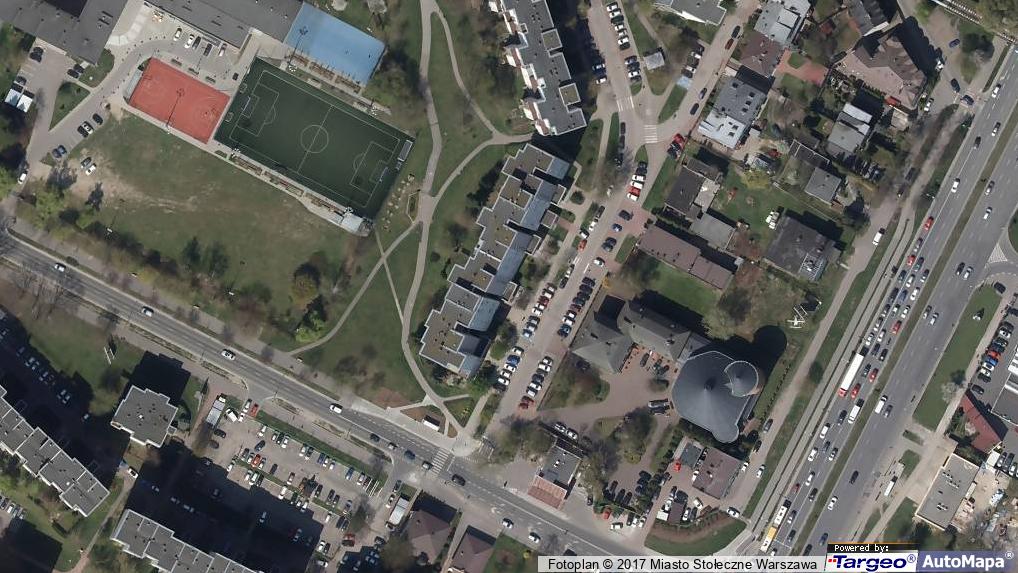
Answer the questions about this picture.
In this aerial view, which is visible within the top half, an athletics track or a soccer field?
soccer field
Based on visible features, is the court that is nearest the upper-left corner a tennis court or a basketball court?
basketball court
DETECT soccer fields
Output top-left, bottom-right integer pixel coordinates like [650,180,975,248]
[216,58,413,217]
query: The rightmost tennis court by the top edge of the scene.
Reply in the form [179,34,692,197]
[285,1,386,85]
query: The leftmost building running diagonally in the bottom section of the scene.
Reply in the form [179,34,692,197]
[0,385,108,518]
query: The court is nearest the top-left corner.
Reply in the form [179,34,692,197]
[129,58,230,143]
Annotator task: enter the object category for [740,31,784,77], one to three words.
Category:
house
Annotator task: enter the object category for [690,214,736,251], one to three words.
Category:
building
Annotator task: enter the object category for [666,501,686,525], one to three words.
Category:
shed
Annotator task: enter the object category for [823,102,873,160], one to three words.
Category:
house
